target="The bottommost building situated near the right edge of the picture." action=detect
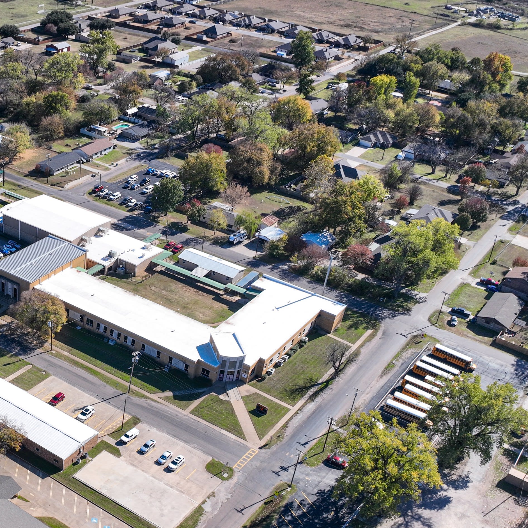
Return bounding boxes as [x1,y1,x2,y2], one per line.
[472,294,528,336]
